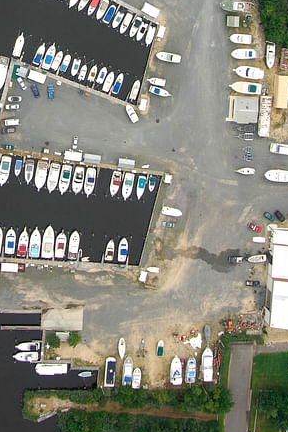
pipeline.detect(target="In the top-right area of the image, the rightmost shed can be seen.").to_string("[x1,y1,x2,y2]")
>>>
[273,75,288,108]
